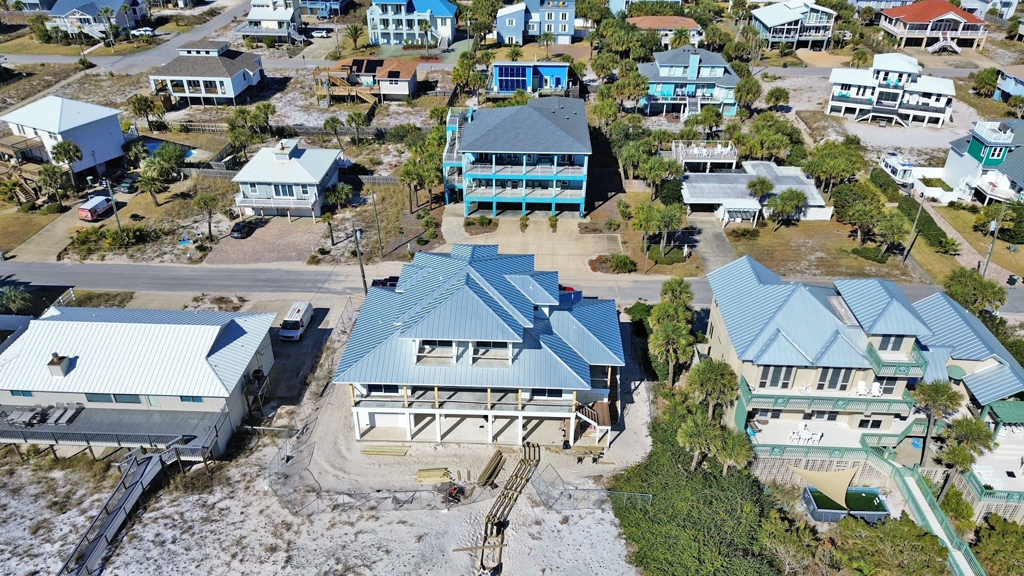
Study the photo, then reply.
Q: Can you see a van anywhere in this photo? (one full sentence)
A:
Yes, the image includes a van.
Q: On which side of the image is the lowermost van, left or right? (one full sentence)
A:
The lowermost van is on the left side of the image.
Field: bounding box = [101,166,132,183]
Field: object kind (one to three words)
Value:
car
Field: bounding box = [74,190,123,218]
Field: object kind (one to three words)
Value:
van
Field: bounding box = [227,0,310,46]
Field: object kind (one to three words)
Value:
house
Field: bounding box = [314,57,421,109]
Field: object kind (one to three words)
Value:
house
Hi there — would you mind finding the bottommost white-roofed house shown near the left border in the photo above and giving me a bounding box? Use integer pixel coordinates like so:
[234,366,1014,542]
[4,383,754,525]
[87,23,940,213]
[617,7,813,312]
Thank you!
[0,298,279,480]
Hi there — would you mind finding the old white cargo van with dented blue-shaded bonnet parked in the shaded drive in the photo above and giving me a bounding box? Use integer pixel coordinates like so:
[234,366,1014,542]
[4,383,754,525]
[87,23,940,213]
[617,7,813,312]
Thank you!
[277,292,321,337]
